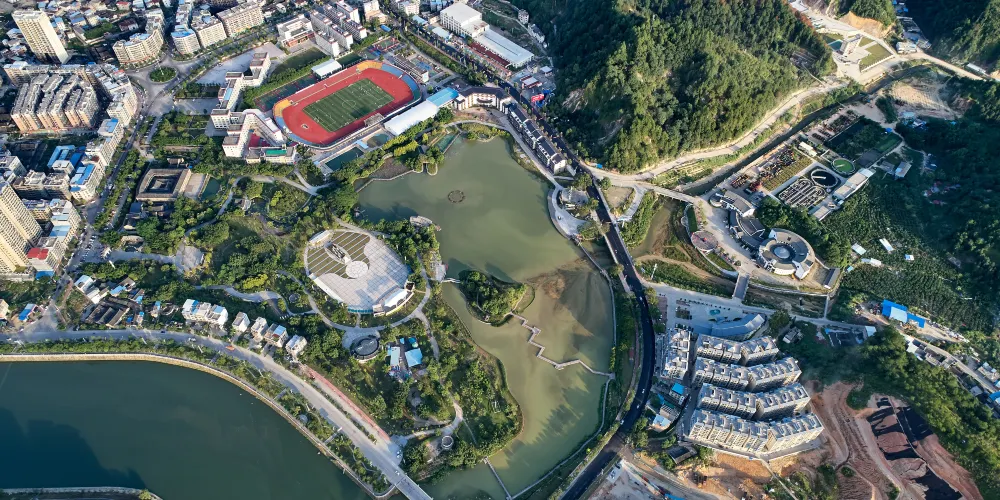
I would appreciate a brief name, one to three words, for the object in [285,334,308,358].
house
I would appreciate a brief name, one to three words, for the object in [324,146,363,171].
swimming pool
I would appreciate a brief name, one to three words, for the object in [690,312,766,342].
building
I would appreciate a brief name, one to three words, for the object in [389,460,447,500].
bridge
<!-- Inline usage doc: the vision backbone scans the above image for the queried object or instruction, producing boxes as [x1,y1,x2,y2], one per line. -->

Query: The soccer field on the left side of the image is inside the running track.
[303,79,396,131]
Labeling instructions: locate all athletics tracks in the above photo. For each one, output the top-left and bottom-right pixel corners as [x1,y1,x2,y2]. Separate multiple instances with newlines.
[271,57,420,152]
